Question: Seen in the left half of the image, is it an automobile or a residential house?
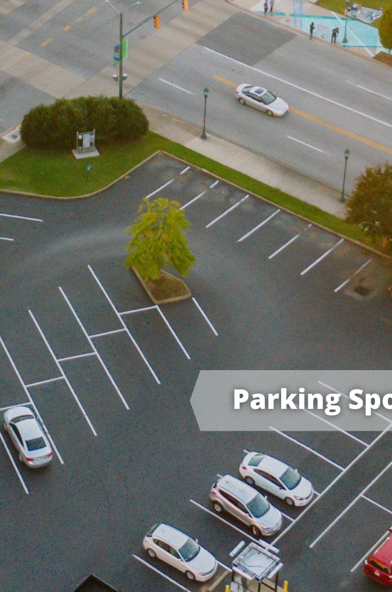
automobile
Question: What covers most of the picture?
paved ground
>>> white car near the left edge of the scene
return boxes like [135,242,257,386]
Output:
[2,409,50,466]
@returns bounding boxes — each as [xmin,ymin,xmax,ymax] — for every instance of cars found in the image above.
[208,478,285,537]
[143,525,217,583]
[367,530,392,586]
[232,83,292,118]
[240,454,318,509]
[2,409,50,466]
